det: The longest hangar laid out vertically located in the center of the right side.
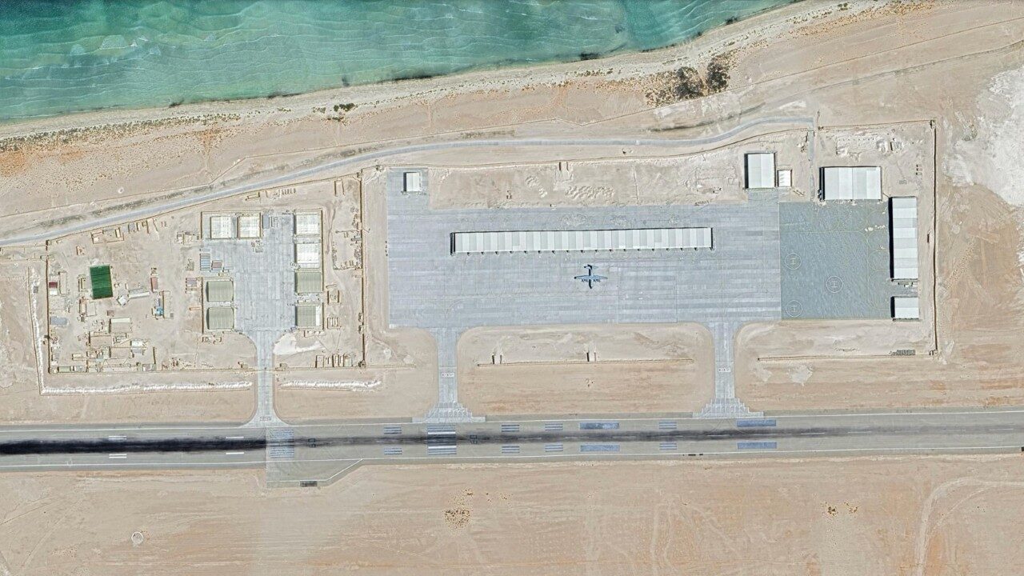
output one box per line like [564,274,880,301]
[892,197,918,281]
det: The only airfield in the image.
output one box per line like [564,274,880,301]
[0,167,1024,488]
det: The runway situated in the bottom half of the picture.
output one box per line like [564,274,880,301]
[0,405,1024,488]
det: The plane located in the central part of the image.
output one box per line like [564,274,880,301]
[576,266,608,289]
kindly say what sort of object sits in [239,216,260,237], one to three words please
hangar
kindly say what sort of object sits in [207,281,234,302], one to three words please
hangar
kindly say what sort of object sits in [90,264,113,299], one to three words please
sports field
